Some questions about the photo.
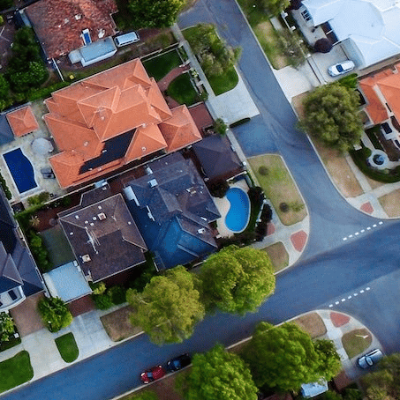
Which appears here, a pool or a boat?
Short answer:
pool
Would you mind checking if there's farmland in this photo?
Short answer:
No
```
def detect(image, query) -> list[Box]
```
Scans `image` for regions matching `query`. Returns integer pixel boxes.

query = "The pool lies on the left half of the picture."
[1,147,43,196]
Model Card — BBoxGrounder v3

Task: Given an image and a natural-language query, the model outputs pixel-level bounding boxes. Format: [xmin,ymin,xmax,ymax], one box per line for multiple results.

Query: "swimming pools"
[1,147,43,196]
[223,186,256,234]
